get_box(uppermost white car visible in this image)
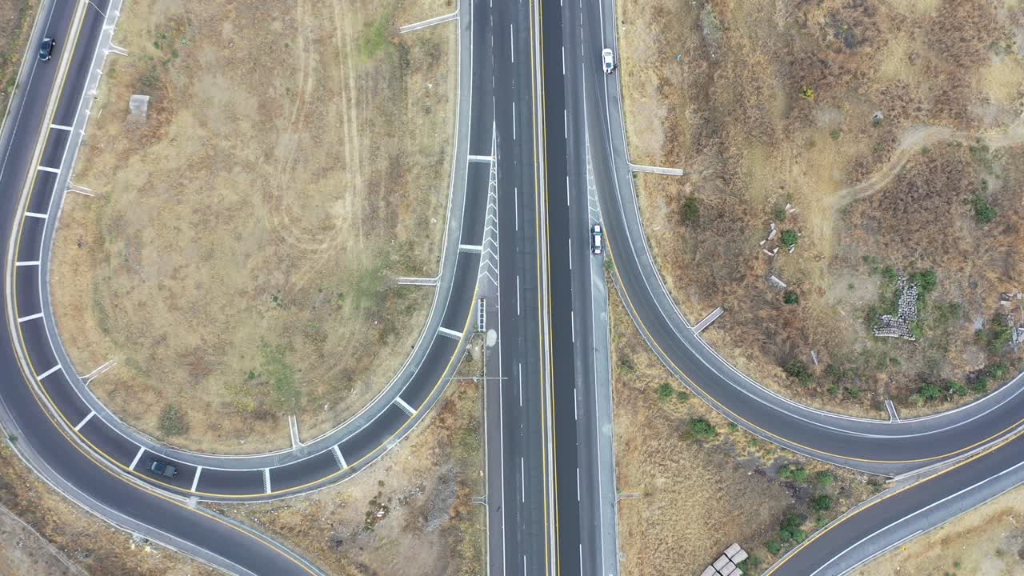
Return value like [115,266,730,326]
[603,49,615,71]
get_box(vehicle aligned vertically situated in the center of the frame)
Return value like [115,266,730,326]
[591,226,604,252]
